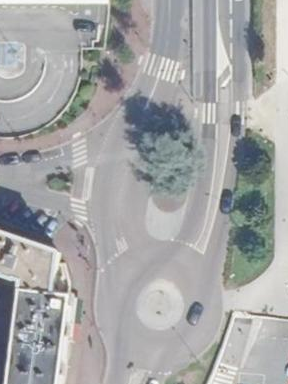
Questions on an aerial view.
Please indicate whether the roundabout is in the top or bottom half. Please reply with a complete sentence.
The roundabout sits in the bottom half of the picture.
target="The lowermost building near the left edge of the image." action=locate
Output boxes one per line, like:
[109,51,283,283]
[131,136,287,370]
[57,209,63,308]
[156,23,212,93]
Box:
[4,287,76,384]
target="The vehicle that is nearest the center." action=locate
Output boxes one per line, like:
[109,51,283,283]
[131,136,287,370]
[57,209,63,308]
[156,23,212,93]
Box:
[220,190,232,212]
